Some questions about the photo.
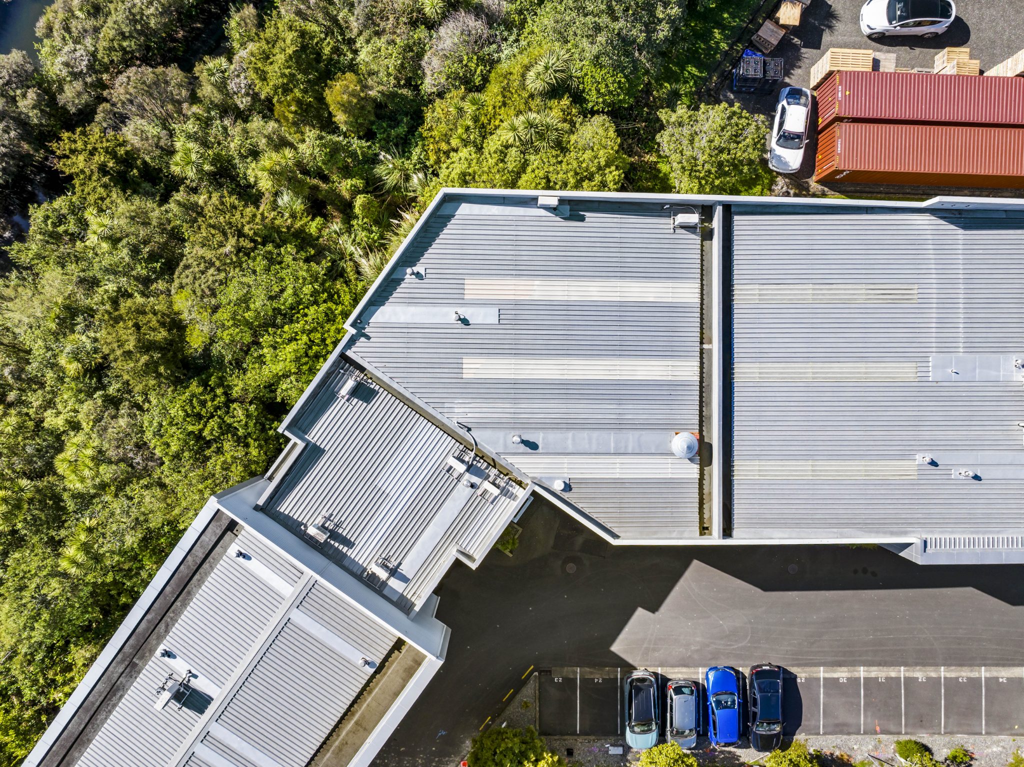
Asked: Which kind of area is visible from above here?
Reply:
industrial area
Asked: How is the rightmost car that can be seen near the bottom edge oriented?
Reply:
from top to bottom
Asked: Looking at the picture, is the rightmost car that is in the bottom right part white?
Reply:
No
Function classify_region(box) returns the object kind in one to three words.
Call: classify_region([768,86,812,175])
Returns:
car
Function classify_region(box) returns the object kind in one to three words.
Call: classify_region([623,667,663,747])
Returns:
car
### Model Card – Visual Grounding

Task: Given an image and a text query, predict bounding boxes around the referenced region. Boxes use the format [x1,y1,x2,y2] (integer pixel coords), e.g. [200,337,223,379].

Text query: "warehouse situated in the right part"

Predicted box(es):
[344,188,1024,565]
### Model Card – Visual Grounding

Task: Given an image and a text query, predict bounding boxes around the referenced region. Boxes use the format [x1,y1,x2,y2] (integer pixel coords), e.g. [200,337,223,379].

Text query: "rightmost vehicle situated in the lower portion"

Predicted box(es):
[746,661,789,749]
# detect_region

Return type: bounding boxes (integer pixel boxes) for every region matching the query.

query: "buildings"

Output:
[344,188,1024,565]
[21,477,460,767]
